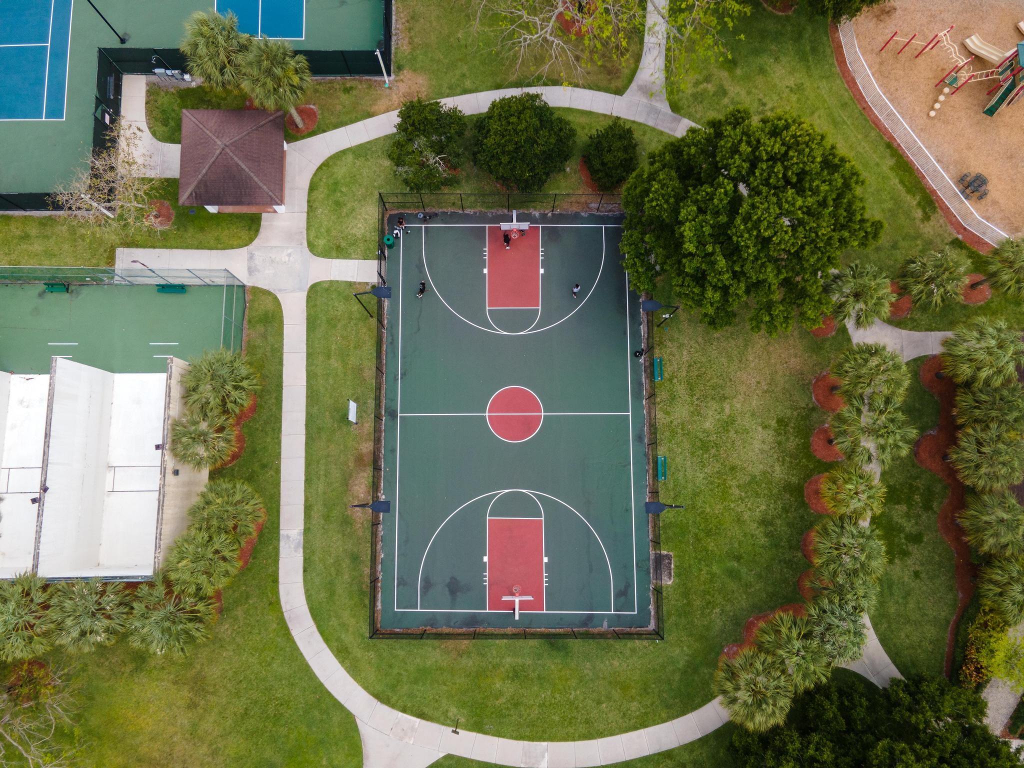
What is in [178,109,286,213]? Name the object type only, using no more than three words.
building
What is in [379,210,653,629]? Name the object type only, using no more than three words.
basketball court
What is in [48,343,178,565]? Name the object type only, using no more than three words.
sports court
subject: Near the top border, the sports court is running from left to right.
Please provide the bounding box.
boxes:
[215,0,304,39]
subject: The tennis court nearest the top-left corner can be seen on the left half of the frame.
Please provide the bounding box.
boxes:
[0,0,73,121]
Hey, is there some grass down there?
Yes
